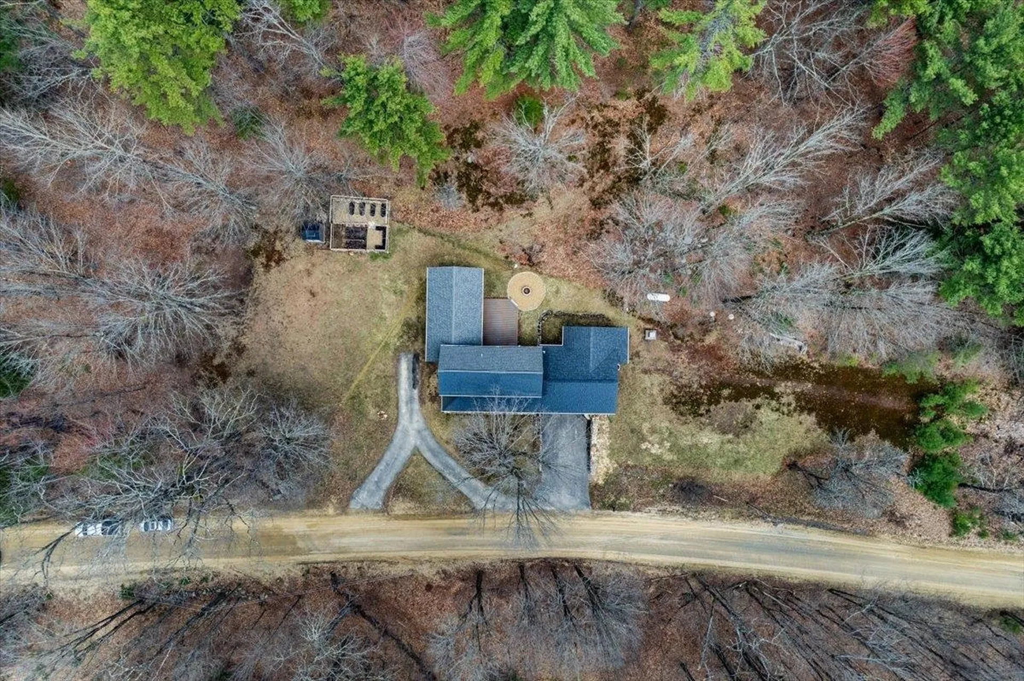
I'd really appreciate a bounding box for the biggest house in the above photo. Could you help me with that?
[426,266,630,414]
